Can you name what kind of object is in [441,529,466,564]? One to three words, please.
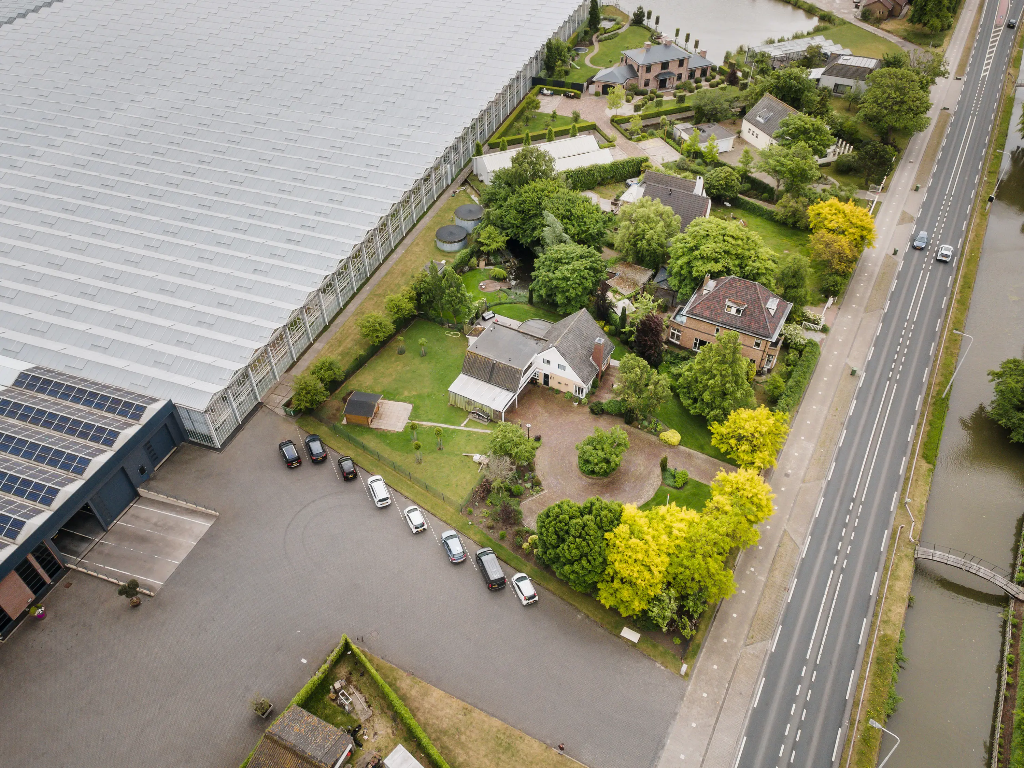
car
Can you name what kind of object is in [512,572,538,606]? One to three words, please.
car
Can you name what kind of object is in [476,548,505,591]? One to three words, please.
van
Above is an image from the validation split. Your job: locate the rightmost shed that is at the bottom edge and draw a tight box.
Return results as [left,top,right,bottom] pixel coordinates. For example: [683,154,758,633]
[250,705,355,768]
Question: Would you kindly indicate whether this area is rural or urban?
urban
